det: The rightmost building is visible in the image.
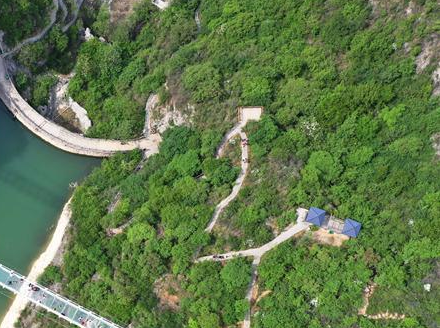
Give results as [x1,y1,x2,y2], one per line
[336,218,361,237]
